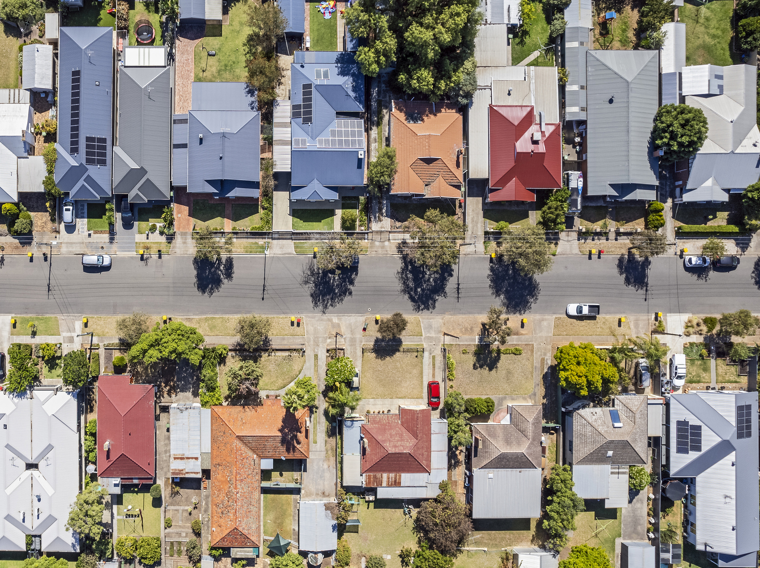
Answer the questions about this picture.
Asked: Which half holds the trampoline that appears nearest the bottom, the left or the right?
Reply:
left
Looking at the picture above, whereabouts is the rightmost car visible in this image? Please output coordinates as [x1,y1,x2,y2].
[712,254,741,268]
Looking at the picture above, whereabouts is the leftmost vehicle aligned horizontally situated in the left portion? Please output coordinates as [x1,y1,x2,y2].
[82,253,113,268]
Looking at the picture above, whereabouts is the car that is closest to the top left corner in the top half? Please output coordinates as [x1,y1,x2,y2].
[60,196,76,225]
